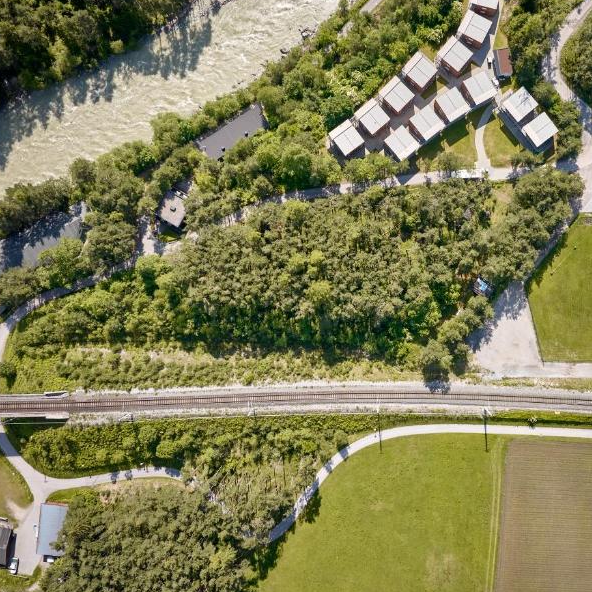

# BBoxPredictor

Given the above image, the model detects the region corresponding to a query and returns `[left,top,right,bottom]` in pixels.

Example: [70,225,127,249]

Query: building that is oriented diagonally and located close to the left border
[4,210,86,283]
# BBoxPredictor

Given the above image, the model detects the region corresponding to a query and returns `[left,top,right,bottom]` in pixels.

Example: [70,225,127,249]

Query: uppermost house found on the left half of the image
[195,103,269,160]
